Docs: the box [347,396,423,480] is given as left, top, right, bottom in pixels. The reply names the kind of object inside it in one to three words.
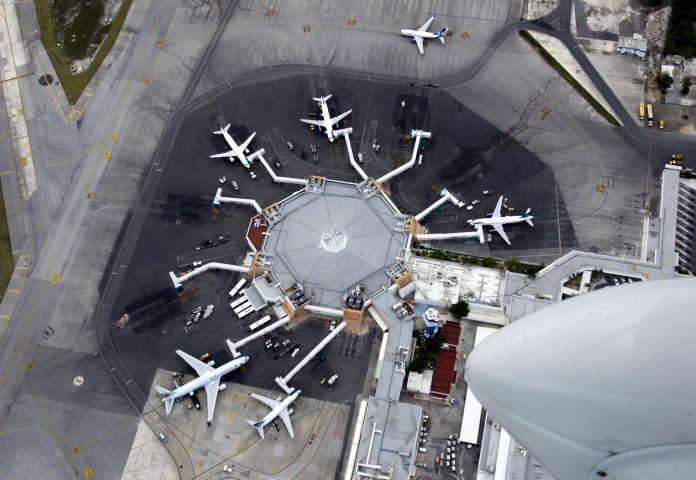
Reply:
building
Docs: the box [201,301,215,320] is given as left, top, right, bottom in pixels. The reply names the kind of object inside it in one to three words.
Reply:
vehicle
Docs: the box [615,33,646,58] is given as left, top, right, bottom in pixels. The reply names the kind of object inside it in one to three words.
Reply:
building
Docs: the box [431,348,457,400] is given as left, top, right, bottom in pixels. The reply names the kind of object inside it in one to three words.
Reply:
shed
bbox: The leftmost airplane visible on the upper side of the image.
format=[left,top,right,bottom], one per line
[205,121,256,167]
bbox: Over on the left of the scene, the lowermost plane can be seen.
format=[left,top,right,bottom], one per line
[250,390,302,438]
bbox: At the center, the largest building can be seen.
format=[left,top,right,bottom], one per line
[246,174,420,328]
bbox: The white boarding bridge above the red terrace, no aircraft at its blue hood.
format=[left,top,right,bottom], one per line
[213,188,263,213]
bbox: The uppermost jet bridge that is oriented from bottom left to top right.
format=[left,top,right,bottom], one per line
[376,130,431,185]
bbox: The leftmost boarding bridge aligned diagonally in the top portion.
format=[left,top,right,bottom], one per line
[246,150,302,188]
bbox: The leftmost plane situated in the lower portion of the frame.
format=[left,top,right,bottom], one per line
[156,347,249,418]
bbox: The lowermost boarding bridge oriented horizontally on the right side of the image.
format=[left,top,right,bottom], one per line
[414,223,485,245]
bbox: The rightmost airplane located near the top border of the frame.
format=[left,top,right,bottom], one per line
[398,14,447,52]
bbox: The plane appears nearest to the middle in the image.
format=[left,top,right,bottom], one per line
[298,92,352,142]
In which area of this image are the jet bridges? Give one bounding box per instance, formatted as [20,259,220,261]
[169,262,249,292]
[226,315,290,360]
[413,186,462,220]
[274,322,347,396]
[376,130,431,185]
[332,128,366,180]
[246,150,302,188]
[414,223,485,245]
[213,188,263,213]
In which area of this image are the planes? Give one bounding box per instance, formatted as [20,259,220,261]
[398,14,447,52]
[205,121,256,167]
[466,279,696,480]
[470,196,534,243]
[250,390,302,438]
[298,92,352,142]
[156,347,249,418]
